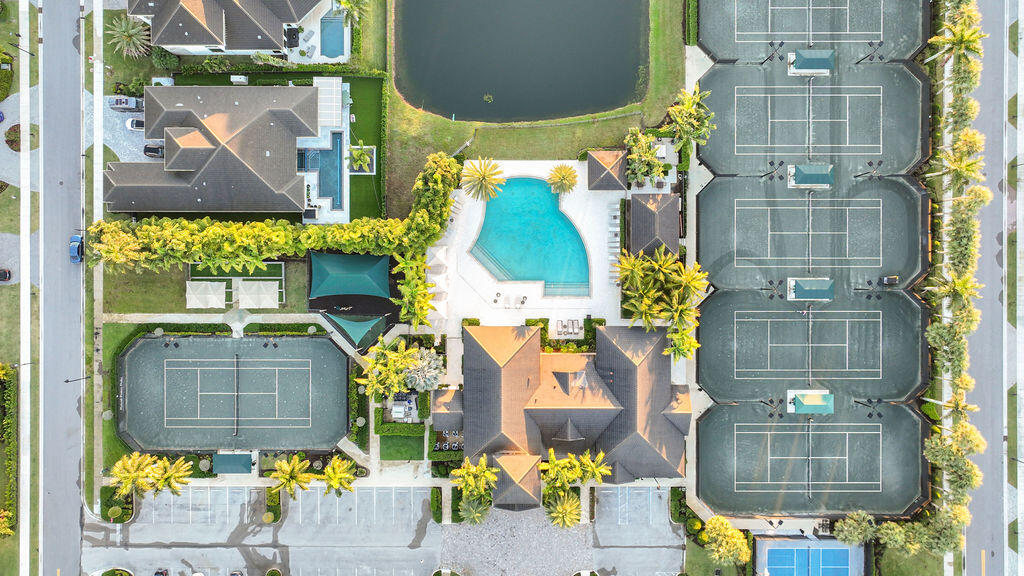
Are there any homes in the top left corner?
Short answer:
Yes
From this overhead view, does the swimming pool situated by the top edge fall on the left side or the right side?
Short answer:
left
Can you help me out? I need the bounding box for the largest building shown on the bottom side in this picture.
[431,326,695,512]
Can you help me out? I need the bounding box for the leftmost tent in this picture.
[186,282,230,308]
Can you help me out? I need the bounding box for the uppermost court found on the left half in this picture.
[126,337,345,449]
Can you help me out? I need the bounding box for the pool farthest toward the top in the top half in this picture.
[320,18,345,59]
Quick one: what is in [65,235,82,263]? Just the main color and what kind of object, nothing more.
blue car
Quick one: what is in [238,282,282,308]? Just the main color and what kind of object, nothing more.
white tent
